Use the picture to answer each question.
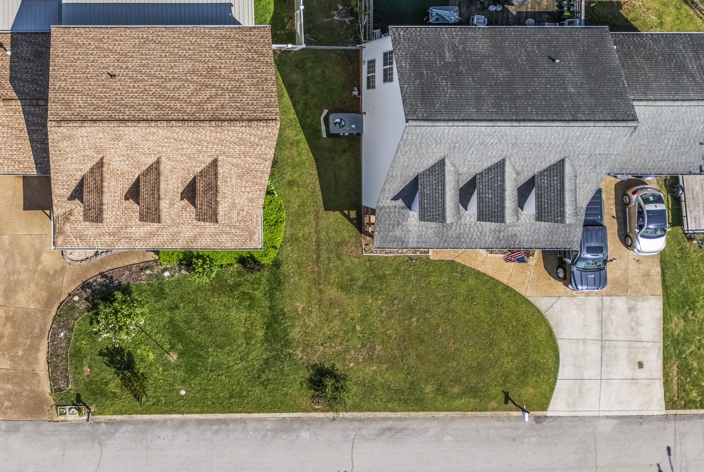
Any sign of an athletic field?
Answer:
No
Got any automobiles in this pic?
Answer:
Yes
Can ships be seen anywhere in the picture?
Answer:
No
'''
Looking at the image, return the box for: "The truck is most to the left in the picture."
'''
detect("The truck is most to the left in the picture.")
[564,193,612,294]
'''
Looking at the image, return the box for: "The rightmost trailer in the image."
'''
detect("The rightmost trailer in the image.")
[670,177,704,254]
